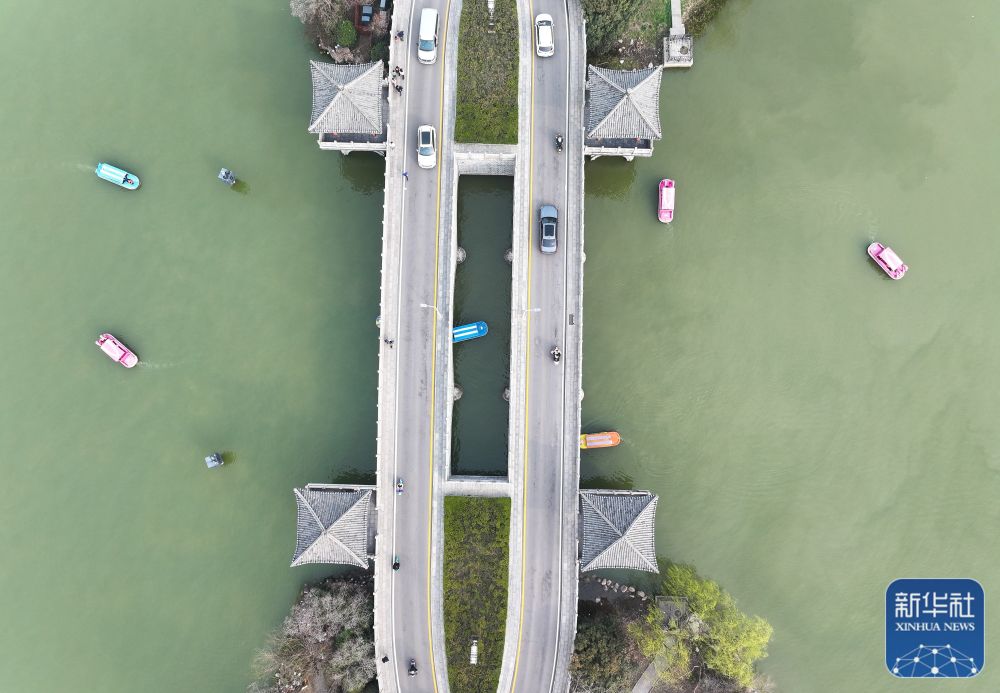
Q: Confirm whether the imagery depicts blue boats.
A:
Yes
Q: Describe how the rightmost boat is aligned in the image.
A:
diagonally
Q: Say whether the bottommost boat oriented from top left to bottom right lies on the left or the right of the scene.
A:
left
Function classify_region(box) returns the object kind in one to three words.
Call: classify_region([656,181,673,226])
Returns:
boat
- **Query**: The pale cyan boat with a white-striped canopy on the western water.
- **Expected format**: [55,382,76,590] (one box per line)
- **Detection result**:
[101,163,146,192]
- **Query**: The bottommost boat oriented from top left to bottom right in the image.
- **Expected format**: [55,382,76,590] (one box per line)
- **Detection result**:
[101,334,143,370]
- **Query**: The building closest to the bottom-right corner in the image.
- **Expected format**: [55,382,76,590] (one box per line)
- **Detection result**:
[579,489,660,574]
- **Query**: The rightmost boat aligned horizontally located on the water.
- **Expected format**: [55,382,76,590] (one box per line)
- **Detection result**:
[581,431,620,448]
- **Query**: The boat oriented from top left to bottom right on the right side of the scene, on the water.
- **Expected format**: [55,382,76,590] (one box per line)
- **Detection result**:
[860,243,904,281]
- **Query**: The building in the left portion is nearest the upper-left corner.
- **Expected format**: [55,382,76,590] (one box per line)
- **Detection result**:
[308,60,389,149]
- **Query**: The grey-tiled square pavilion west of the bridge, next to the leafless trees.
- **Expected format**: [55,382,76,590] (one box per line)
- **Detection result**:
[290,485,376,569]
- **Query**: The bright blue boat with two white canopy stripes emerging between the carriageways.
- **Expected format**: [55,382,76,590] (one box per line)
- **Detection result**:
[455,321,489,342]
